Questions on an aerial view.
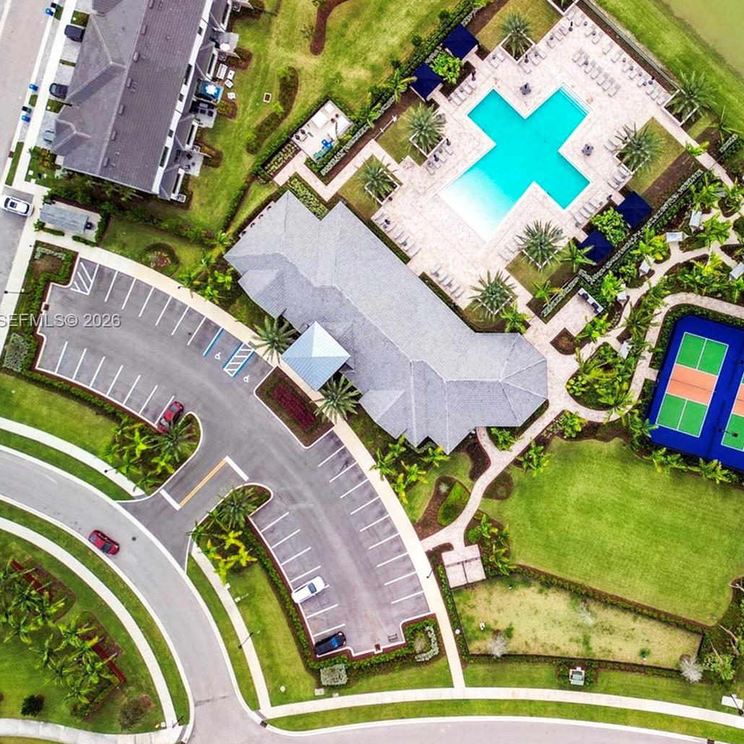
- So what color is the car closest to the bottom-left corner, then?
red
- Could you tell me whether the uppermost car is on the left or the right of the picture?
left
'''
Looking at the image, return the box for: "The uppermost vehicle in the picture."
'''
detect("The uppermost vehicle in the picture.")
[58,22,86,42]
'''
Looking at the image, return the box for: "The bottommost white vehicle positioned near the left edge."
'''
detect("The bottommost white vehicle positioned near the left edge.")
[0,195,36,216]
